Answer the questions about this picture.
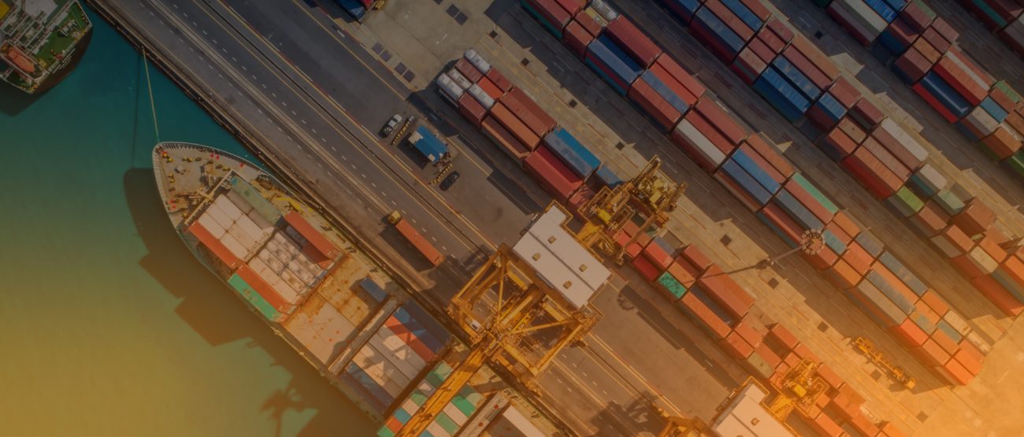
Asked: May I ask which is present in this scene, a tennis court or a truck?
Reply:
truck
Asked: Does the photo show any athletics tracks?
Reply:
No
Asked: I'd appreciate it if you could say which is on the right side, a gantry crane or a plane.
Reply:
gantry crane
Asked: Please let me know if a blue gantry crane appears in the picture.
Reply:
No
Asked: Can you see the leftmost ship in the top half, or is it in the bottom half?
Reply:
top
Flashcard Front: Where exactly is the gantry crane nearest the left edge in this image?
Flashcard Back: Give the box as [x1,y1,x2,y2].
[393,183,635,437]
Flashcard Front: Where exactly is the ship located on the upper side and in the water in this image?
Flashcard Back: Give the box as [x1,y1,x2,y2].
[0,0,95,93]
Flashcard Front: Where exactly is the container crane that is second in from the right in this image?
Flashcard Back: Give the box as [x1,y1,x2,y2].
[605,152,691,271]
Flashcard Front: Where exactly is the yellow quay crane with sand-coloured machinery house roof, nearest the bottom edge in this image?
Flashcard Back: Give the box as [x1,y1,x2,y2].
[651,357,830,437]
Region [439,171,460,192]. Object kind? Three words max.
car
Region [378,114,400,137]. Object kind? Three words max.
truck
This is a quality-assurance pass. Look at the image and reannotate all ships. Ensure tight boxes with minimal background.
[0,0,95,93]
[156,143,567,437]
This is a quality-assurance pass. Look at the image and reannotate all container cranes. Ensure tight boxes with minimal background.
[651,357,830,437]
[393,183,635,437]
[605,152,691,271]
